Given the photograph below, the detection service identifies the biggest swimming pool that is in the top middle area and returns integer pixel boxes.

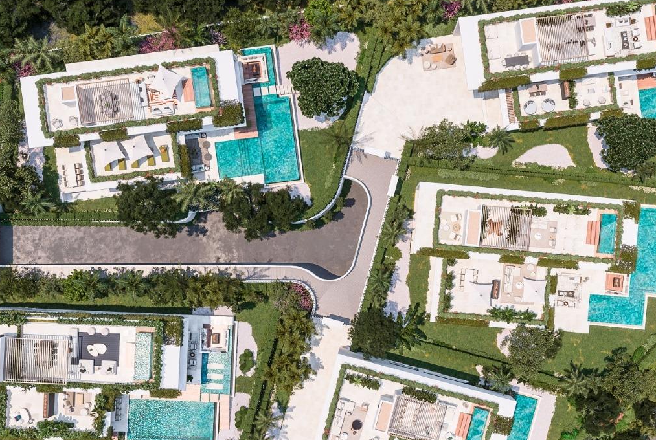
[215,43,305,188]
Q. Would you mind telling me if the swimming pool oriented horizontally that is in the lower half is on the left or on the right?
left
